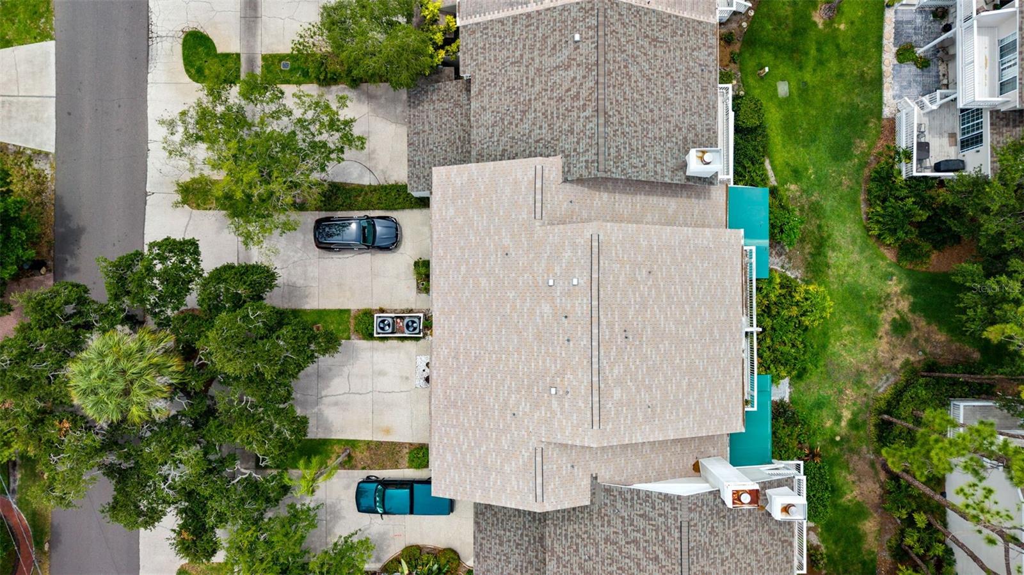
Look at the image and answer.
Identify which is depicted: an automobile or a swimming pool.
automobile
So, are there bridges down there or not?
No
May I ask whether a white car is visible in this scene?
No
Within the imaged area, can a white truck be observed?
No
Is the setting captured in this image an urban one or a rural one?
urban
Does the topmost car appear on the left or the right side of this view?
left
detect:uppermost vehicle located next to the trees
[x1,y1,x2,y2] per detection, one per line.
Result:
[315,214,401,255]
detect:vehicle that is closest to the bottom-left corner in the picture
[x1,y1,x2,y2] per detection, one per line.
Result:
[355,476,455,520]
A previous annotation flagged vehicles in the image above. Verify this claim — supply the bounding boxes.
[355,476,455,520]
[315,214,401,255]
